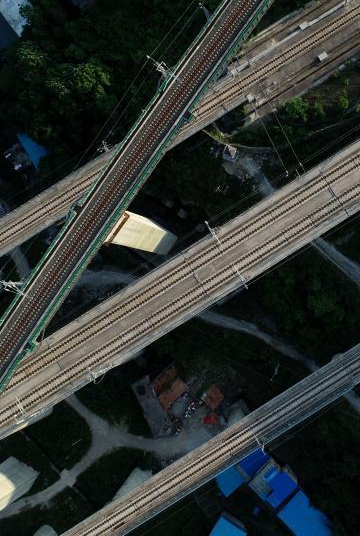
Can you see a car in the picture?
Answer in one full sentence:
No, no car can be seen from above.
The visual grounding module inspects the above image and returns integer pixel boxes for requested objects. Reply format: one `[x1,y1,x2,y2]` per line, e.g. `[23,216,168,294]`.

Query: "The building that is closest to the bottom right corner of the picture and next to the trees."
[277,486,338,536]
